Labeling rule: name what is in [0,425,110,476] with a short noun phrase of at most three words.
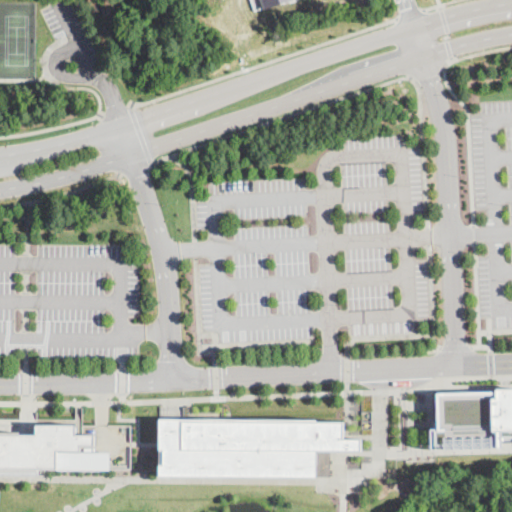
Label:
building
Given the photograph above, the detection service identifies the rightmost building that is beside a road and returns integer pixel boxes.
[429,388,512,450]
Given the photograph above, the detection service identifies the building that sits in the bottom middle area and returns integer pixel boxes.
[157,418,362,478]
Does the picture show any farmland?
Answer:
No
